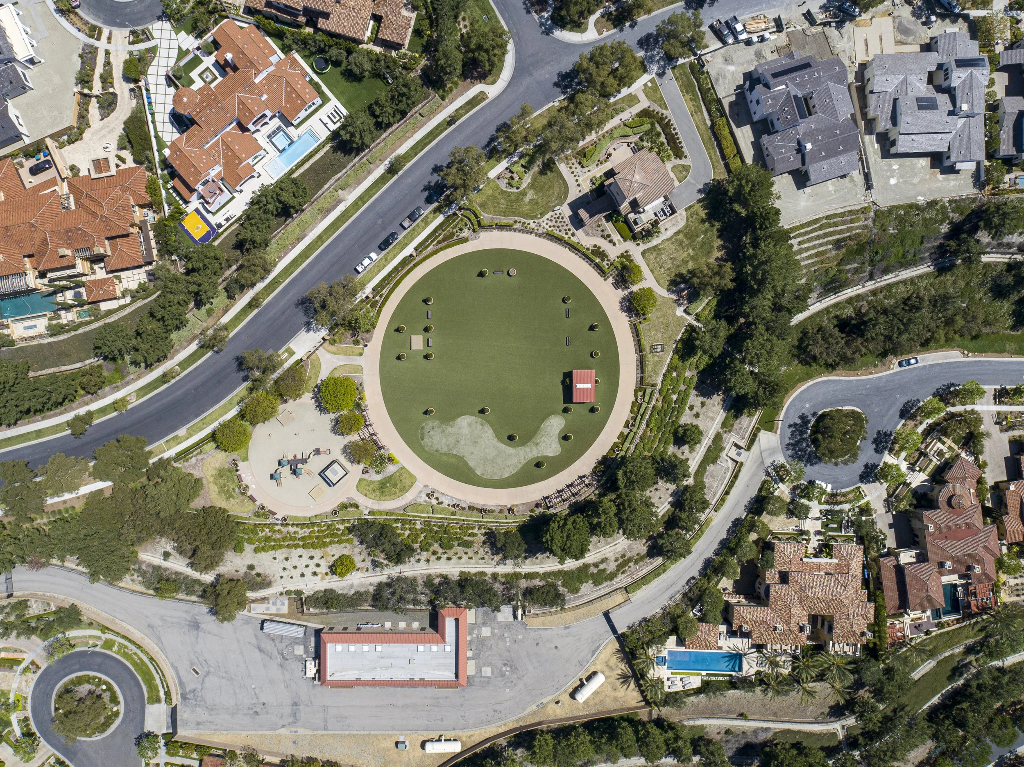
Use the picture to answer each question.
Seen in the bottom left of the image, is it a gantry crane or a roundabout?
roundabout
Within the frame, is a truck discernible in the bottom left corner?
No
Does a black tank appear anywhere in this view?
No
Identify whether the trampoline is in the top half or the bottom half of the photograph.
top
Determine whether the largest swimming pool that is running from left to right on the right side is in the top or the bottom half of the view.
bottom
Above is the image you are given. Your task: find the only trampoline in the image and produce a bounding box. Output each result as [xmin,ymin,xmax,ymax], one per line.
[310,51,331,71]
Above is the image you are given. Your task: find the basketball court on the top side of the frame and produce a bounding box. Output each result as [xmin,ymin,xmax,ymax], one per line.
[178,207,219,245]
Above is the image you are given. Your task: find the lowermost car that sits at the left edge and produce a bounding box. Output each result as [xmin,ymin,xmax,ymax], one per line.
[25,156,52,174]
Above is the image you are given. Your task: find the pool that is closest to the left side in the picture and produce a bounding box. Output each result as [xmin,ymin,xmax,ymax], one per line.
[0,289,57,320]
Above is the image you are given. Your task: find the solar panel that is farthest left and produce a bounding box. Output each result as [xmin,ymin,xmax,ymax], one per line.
[771,62,812,77]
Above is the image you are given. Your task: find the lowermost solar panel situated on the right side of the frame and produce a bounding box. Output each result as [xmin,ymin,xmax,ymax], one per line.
[916,97,938,109]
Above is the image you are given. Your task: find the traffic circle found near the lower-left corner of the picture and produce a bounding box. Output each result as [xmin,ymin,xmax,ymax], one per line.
[50,671,124,741]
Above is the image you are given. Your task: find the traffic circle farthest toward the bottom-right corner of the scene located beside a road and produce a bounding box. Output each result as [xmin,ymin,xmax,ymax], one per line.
[809,405,868,463]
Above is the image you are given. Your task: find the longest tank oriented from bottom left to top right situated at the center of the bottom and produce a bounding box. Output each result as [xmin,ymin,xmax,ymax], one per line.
[573,670,608,706]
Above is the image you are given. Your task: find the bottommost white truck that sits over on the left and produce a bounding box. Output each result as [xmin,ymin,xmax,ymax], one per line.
[353,250,378,273]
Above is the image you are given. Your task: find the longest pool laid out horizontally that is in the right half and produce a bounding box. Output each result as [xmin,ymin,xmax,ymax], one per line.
[666,650,744,674]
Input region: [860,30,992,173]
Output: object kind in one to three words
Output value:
house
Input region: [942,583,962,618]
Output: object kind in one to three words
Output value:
swimming pool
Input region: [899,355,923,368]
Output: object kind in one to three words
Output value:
vehicle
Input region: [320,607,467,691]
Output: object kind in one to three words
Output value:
building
